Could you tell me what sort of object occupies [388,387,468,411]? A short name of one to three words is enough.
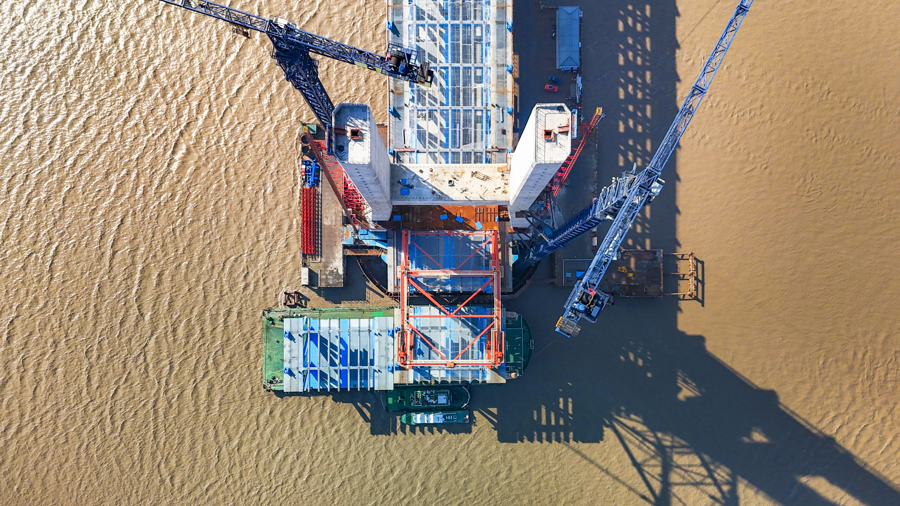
boat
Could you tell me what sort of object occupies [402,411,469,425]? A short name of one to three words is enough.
boat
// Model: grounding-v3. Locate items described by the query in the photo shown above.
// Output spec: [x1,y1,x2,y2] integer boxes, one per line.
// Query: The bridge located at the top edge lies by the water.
[388,0,512,165]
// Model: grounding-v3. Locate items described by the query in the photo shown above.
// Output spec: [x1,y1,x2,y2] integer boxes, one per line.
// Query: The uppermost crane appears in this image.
[142,0,438,133]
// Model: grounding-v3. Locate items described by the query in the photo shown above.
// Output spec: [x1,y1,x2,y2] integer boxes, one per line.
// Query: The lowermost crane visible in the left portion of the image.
[304,126,367,228]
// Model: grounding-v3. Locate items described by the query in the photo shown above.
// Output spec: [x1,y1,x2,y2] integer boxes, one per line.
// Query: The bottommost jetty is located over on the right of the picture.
[618,249,662,299]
